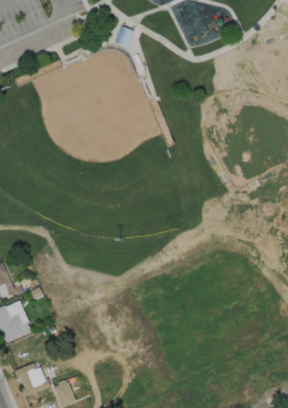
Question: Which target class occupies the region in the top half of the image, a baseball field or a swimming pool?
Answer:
baseball field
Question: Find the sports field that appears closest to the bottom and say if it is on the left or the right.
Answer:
right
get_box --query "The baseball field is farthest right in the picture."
[222,106,288,188]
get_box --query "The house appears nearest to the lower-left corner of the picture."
[16,363,52,398]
